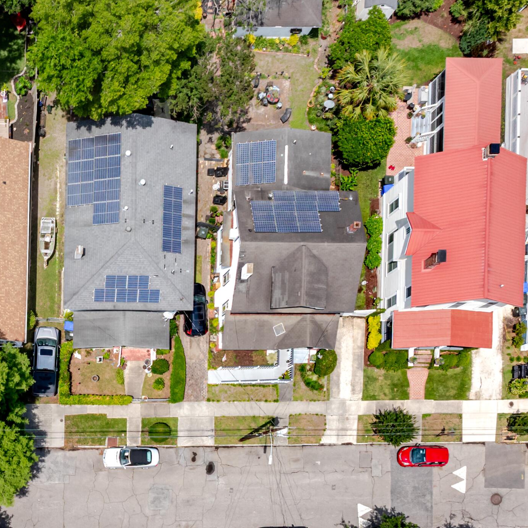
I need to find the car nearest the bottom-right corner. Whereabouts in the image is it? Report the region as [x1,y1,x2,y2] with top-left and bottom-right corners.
[399,442,456,469]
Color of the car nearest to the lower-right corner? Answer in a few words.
red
